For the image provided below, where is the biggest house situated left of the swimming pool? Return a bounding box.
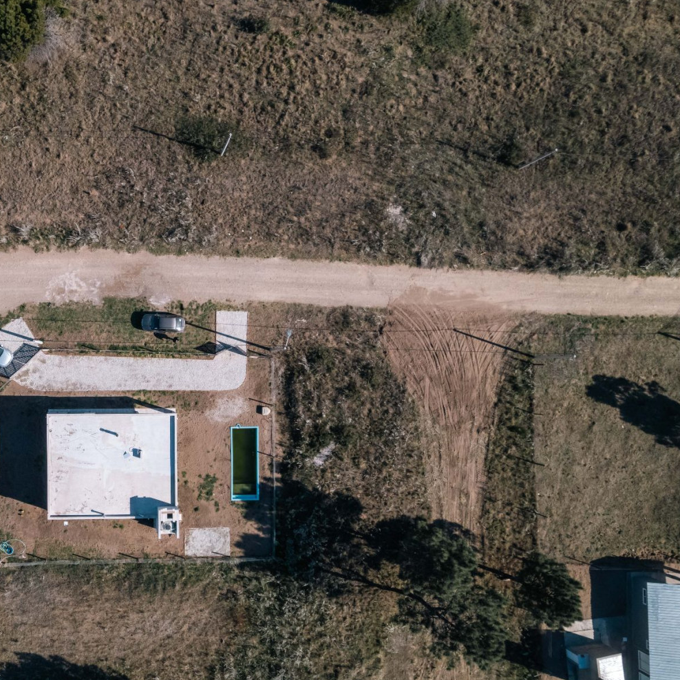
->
[48,408,177,519]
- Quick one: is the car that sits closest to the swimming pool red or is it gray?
gray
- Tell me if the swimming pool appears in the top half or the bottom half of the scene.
bottom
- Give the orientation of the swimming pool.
from top to bottom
